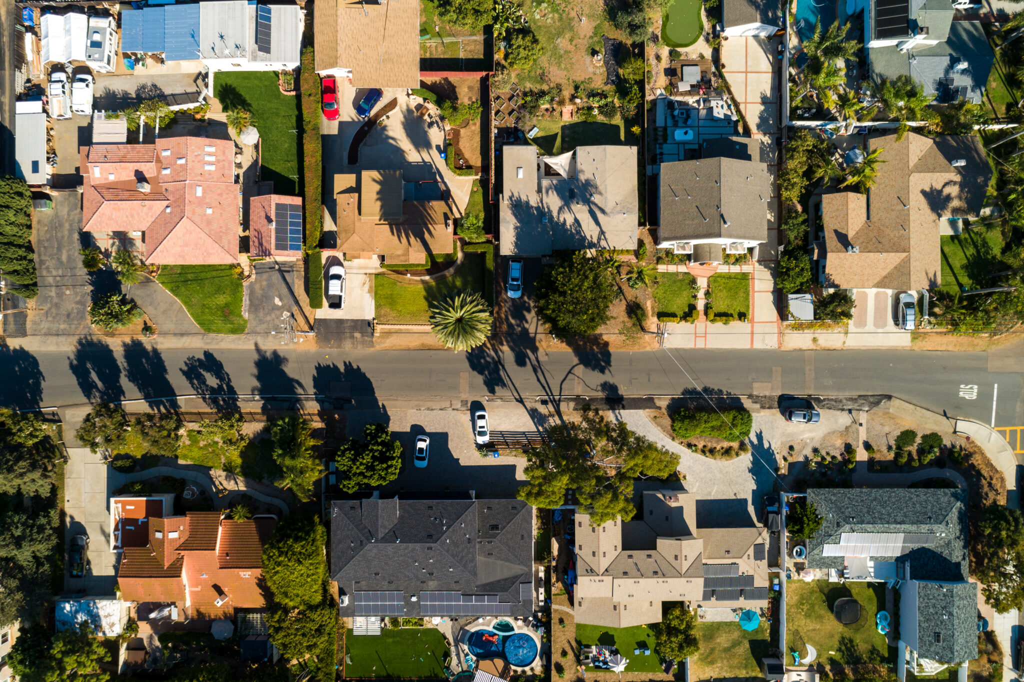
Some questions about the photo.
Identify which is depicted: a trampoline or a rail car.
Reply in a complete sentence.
Of the two, only a trampoline appears.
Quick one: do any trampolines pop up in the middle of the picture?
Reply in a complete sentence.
No, no trampoline is visible in the middle of the picture.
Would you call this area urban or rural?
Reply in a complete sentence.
It looks urban.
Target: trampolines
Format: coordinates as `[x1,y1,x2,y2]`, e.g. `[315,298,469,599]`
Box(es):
[832,594,869,629]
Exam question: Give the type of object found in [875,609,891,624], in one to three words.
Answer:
swimming pool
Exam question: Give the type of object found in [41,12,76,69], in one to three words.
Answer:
tent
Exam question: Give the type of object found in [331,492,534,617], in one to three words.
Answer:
house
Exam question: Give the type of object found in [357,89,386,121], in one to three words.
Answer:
car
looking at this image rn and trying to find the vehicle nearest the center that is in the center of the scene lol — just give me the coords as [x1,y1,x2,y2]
[506,260,524,298]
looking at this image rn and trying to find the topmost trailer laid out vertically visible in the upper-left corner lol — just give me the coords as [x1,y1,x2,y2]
[89,15,121,85]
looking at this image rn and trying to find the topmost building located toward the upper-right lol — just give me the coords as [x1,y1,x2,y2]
[719,0,781,35]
